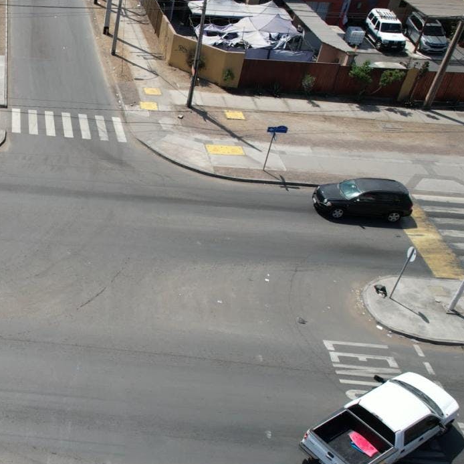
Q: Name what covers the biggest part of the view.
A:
paved ground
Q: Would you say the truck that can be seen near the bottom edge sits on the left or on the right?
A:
right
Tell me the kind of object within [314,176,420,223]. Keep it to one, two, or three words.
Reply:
car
